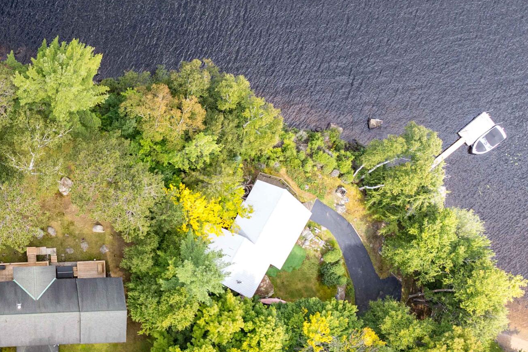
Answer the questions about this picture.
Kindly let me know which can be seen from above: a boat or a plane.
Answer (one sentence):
There is a boat in the scene.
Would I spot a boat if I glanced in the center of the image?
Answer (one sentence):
No, in the center of the image there is no boat.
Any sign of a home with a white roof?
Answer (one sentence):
Yes, the picture does show a home with a white roof.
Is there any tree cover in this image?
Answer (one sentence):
Yes, tree cover can be seen from above here.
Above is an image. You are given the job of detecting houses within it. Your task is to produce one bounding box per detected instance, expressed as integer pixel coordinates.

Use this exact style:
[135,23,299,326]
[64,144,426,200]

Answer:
[200,172,312,298]
[0,247,126,352]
